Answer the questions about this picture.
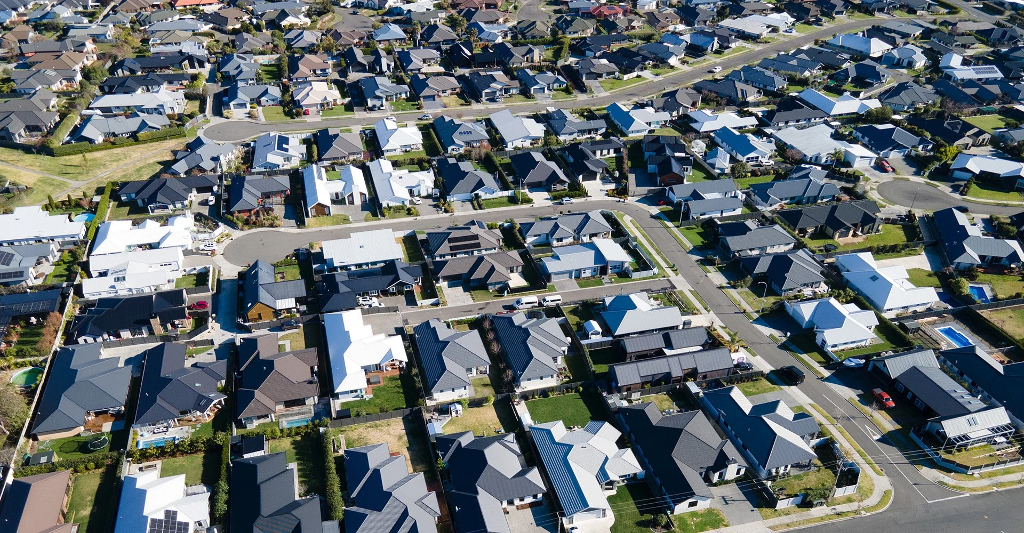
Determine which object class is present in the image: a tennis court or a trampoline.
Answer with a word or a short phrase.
trampoline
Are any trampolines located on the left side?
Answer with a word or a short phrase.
Yes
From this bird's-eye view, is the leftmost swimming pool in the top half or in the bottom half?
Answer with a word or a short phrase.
bottom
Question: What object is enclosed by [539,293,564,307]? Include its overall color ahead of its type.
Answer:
white vehicle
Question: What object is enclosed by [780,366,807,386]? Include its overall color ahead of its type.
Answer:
black car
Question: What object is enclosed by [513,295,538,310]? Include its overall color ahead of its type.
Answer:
white vehicle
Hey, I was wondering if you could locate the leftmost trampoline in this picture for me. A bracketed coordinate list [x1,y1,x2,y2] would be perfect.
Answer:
[82,424,110,451]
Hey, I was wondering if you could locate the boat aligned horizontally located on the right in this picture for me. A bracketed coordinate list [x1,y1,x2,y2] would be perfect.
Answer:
[832,357,870,371]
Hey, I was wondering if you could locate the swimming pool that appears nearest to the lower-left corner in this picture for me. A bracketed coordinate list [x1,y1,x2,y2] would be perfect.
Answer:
[7,366,41,388]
